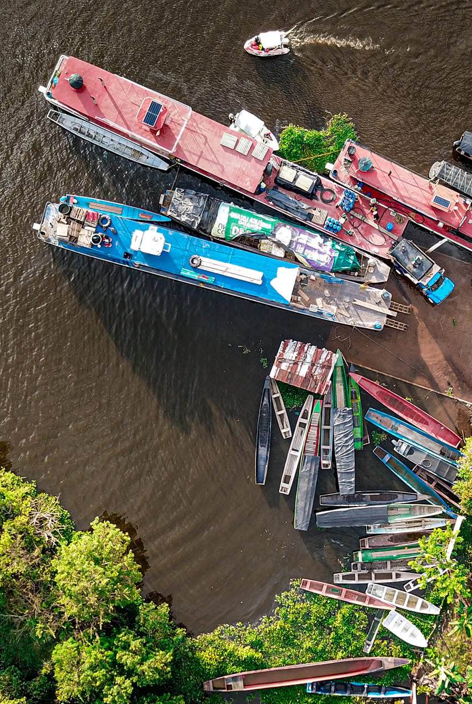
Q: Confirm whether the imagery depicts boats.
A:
Yes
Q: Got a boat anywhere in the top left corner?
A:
Yes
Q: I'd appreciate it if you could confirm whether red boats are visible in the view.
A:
Yes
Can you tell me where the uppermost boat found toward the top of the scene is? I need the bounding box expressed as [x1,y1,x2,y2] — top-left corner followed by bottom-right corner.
[244,10,305,58]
